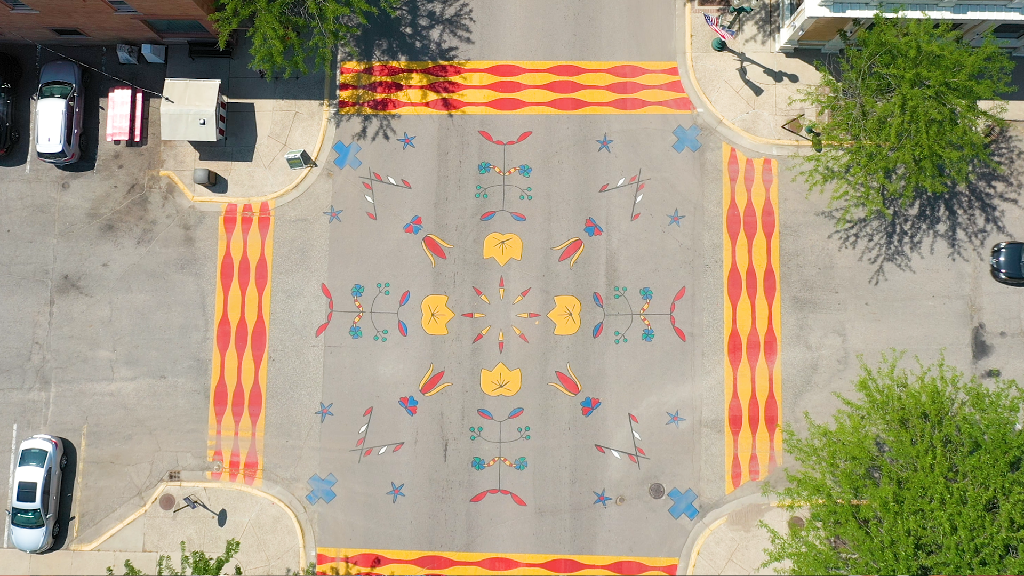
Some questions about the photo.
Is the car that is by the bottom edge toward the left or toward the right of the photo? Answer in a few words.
left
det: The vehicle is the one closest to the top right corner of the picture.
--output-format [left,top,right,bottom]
[987,242,1024,285]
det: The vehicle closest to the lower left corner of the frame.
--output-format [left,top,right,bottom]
[3,430,69,552]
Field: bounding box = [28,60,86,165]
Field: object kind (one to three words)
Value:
car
